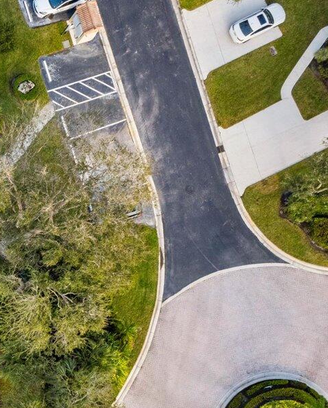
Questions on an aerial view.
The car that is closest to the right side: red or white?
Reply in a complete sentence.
In this view, the car that is closest to the right side is white.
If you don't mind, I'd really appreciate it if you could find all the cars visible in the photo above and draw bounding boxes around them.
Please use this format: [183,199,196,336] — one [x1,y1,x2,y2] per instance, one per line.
[227,4,286,44]
[31,0,82,18]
